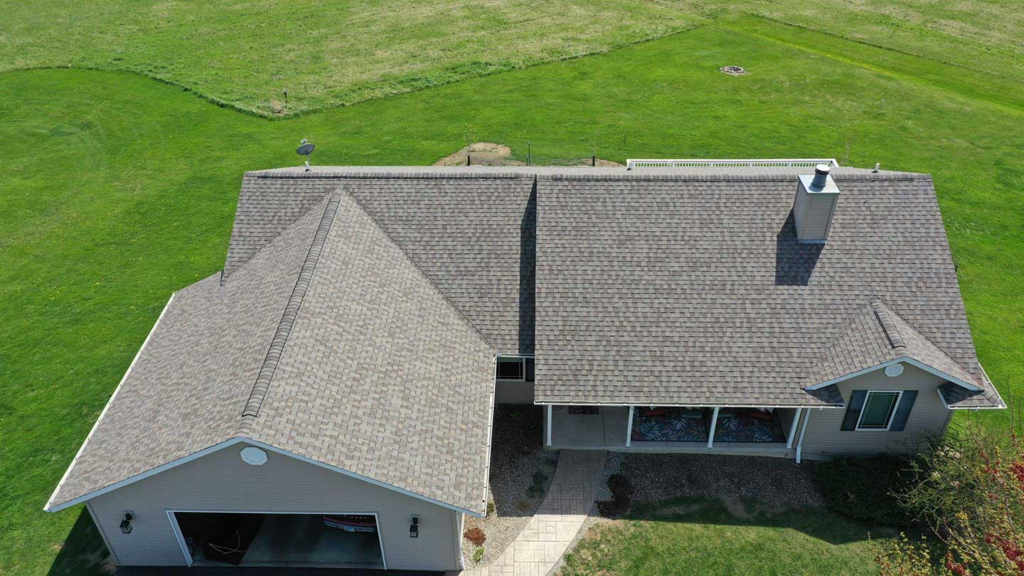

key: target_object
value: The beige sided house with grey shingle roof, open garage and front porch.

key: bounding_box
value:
[40,163,1014,576]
